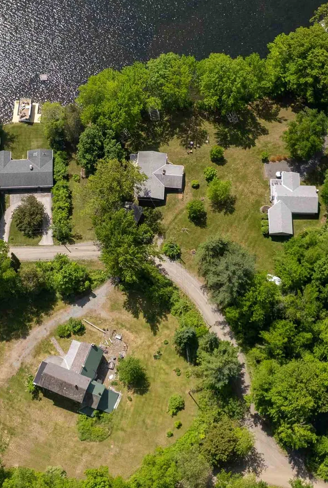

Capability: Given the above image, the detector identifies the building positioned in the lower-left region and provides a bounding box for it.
[34,340,123,417]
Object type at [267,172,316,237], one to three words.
house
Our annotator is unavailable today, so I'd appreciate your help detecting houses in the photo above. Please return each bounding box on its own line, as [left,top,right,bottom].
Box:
[267,172,316,237]
[0,149,53,190]
[131,151,183,204]
[34,340,123,417]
